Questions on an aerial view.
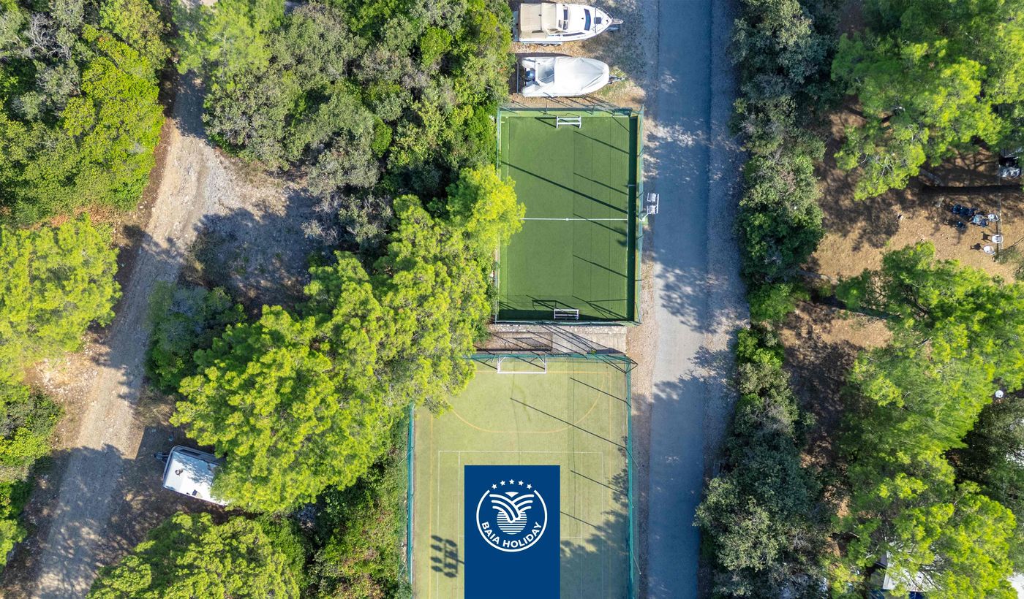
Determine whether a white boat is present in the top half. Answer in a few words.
Yes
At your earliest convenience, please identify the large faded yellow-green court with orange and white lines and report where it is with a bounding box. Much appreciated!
[412,359,629,599]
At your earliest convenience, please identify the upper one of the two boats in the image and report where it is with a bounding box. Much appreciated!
[513,4,622,42]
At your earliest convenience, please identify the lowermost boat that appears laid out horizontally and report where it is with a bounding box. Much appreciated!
[524,58,610,97]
